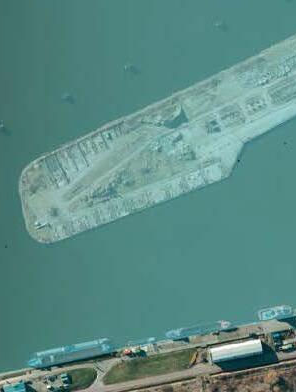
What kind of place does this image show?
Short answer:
port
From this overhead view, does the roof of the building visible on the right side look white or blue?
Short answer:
white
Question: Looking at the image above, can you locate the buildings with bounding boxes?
[2,382,26,392]
[210,340,263,363]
